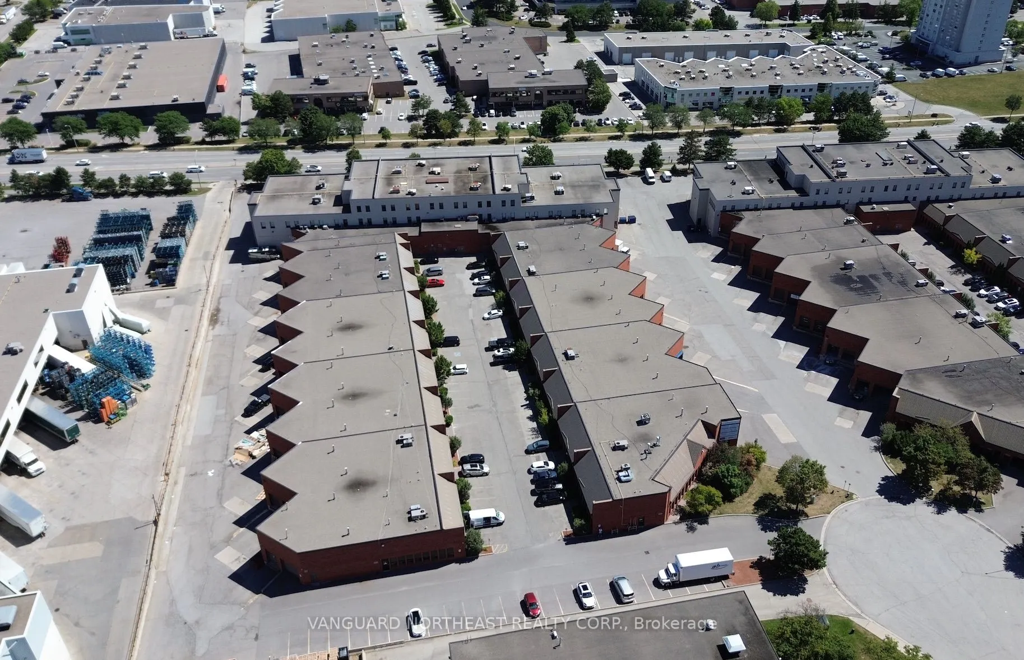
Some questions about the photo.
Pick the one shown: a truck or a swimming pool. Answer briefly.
truck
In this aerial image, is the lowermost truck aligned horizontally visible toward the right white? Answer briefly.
Yes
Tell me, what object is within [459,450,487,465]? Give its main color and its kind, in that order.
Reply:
black car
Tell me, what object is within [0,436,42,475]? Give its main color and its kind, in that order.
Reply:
white truck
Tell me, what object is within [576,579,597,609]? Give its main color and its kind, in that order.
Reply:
white car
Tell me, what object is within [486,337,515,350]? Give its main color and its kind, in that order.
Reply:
black vehicle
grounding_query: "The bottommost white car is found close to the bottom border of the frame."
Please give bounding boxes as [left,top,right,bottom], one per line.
[407,606,427,637]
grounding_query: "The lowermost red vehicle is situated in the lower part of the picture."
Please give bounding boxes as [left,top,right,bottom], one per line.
[523,591,542,619]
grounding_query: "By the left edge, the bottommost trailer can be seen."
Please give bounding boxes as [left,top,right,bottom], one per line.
[0,551,29,593]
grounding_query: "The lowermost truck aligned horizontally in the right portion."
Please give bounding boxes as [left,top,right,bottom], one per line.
[658,546,733,586]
